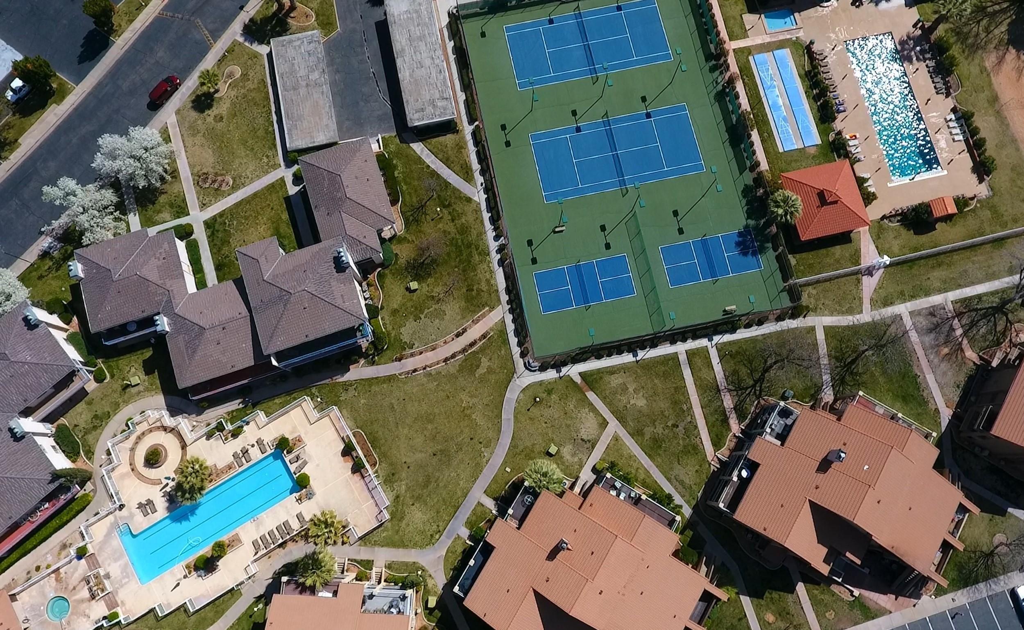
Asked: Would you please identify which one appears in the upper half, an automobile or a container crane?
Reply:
automobile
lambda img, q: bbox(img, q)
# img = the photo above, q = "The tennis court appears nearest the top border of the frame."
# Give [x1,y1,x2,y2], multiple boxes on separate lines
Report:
[503,0,673,90]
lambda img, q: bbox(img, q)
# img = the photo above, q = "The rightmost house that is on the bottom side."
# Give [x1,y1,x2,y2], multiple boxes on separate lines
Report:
[954,322,1024,467]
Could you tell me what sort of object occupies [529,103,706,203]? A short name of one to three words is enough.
tennis court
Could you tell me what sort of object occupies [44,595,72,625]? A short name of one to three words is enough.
swimming pool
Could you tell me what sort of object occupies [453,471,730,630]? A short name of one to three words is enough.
house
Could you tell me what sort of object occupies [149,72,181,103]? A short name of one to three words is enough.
car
